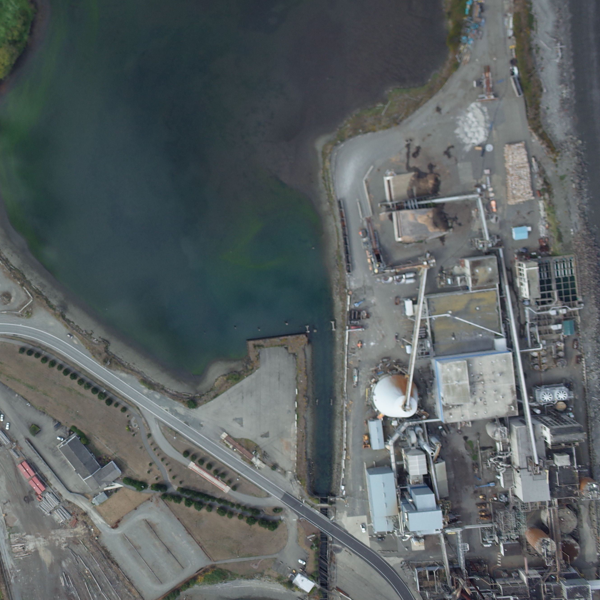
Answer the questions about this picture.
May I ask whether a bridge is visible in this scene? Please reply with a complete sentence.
Yes, there's a bridge here.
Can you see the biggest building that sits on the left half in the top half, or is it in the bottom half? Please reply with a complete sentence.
Seen from above, the biggest building that sits on the left half lies in the bottom half of the view.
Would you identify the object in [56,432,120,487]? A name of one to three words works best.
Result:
building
